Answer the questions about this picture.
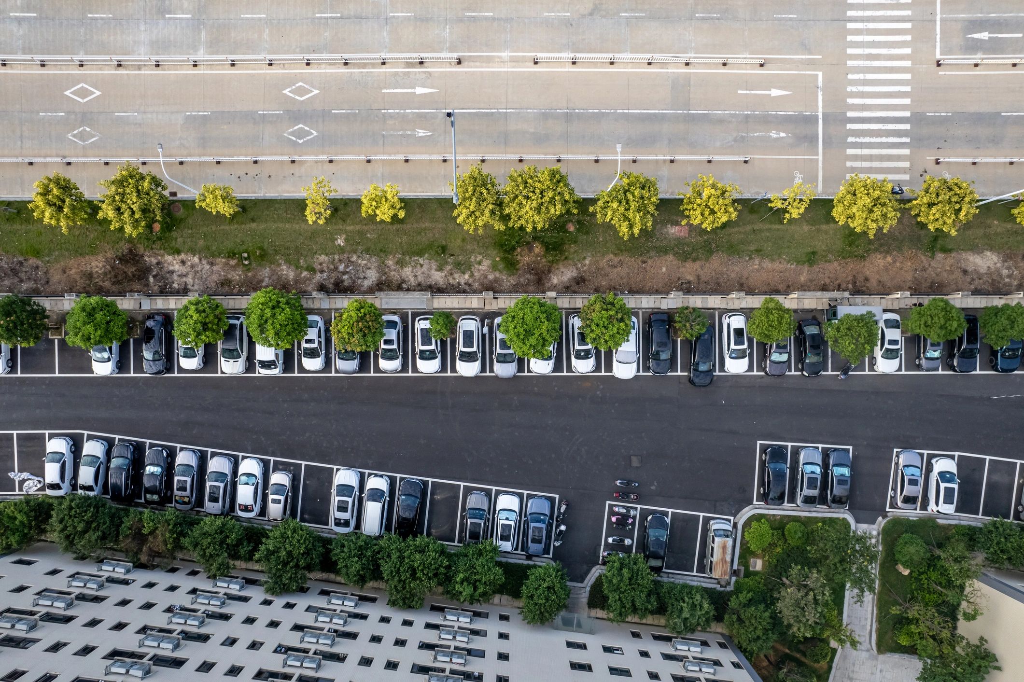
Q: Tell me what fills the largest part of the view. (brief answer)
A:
paved ground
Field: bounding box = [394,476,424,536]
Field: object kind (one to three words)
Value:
car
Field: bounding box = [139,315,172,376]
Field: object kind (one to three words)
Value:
car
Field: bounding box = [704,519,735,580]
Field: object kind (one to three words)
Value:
van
